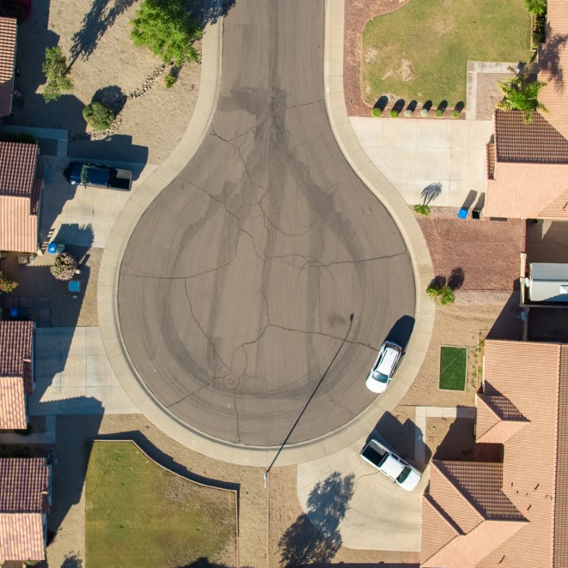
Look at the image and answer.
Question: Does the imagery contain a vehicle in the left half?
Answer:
Yes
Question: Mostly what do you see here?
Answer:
paved ground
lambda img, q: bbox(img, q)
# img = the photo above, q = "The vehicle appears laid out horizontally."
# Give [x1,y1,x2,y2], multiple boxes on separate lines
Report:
[70,163,135,191]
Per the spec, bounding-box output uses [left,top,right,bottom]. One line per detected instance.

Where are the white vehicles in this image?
[361,439,422,492]
[368,341,404,393]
